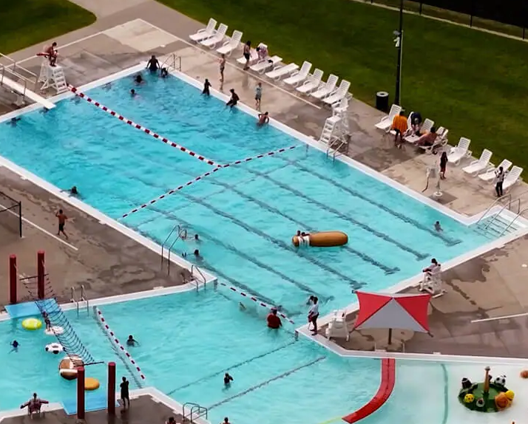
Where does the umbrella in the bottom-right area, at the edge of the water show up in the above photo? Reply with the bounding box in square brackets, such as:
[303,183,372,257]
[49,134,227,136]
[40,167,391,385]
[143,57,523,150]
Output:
[350,292,434,356]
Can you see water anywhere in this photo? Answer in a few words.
Yes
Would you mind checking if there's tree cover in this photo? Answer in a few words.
No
